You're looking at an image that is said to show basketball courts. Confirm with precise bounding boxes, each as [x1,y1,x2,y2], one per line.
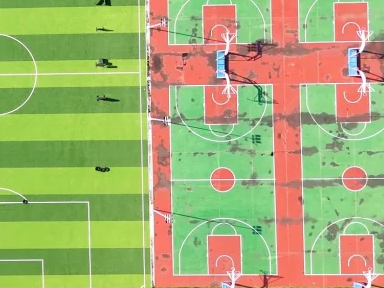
[296,80,384,276]
[296,0,384,44]
[168,0,275,46]
[169,82,279,277]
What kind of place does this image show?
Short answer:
sports ground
